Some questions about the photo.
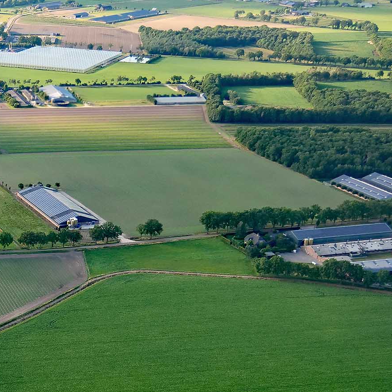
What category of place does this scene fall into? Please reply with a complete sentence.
The picture captures farmland.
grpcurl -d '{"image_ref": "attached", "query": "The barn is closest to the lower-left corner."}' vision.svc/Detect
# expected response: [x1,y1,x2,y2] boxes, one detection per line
[16,185,100,229]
